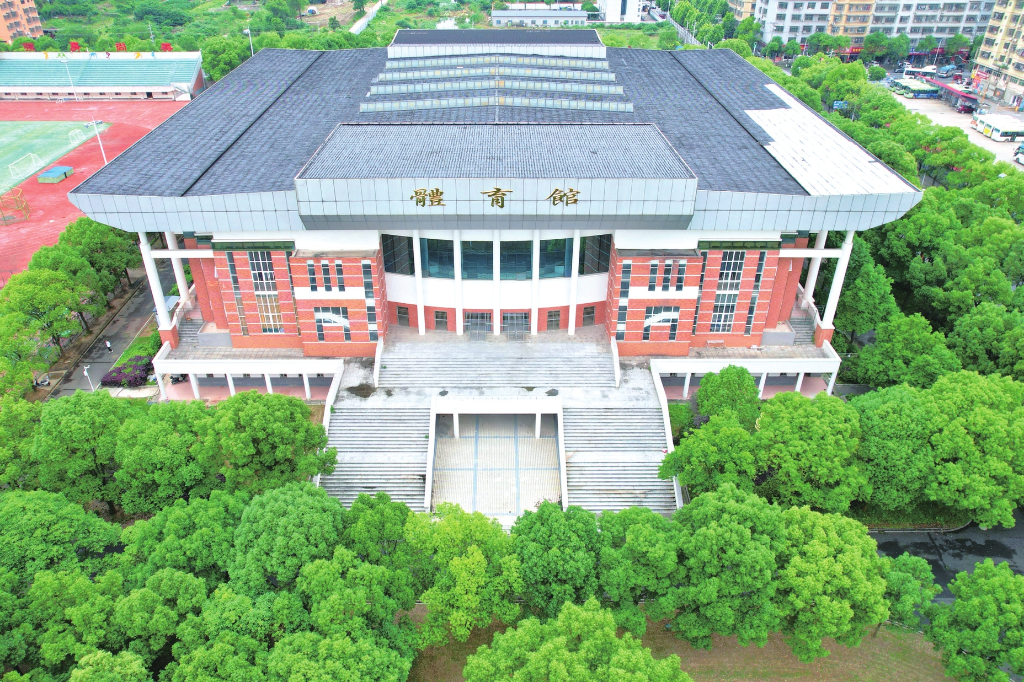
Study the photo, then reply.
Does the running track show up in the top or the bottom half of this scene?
top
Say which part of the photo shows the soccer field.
top left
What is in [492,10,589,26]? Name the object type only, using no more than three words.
shed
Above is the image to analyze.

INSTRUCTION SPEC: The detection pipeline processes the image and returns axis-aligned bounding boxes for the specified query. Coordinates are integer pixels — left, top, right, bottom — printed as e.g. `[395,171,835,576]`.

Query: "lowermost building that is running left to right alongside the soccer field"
[68,28,926,356]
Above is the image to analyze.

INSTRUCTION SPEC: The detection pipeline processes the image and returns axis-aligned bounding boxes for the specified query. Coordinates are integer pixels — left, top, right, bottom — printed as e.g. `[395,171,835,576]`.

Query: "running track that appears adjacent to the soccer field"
[0,100,192,125]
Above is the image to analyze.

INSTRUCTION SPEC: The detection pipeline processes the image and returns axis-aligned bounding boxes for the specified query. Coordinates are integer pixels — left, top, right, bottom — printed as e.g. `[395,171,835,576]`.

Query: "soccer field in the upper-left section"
[0,122,110,193]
